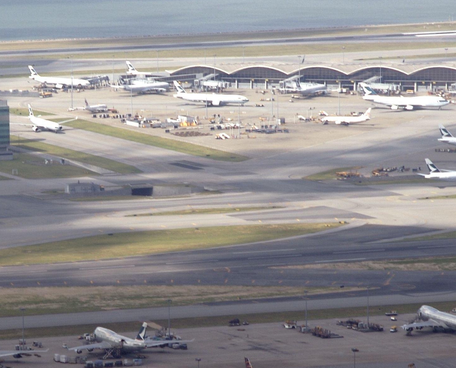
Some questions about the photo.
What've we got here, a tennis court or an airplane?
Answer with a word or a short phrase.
airplane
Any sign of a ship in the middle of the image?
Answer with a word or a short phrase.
No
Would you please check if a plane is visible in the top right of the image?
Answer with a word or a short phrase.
Yes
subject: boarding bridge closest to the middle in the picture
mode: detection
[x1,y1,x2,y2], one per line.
[192,75,233,94]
